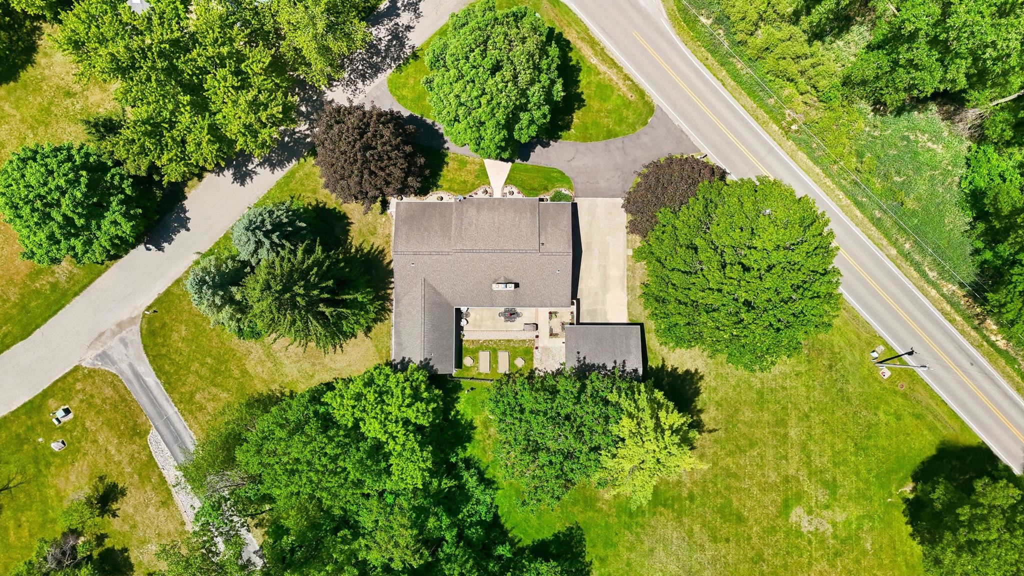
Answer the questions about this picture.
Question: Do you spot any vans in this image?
No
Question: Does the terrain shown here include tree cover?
Yes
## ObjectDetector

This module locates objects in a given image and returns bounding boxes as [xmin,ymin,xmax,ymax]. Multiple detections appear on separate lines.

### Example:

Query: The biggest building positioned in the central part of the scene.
[390,197,573,374]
